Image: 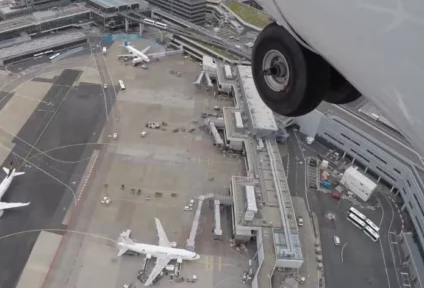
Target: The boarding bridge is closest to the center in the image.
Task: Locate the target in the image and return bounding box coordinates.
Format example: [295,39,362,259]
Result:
[206,120,225,149]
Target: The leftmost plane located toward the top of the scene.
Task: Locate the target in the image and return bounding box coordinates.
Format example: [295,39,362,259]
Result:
[115,36,150,62]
